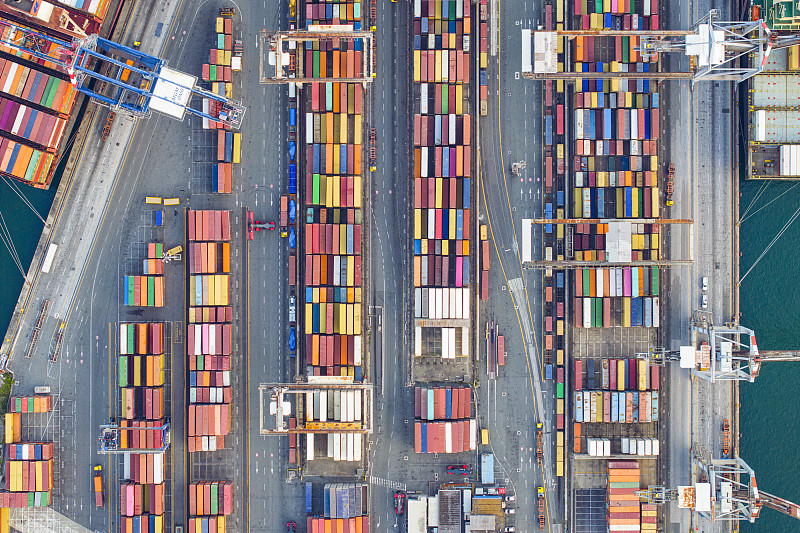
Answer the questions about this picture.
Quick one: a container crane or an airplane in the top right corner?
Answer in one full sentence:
Looking in the top right corner, you will find a container crane.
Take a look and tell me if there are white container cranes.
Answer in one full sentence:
Yes, looking at the shot, I can spot a white container crane.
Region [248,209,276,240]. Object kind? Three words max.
work vehicle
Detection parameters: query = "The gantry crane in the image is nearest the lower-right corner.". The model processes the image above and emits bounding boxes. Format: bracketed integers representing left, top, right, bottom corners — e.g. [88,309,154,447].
[639,431,800,527]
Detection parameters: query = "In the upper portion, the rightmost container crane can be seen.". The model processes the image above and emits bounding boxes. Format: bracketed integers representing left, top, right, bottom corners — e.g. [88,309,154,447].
[639,0,800,92]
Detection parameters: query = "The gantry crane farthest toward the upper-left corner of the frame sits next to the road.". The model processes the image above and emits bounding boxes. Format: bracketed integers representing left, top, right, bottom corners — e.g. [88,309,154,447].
[0,15,252,134]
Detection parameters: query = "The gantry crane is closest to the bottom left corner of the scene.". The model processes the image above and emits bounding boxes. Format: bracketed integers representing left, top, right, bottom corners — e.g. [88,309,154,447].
[98,416,175,455]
